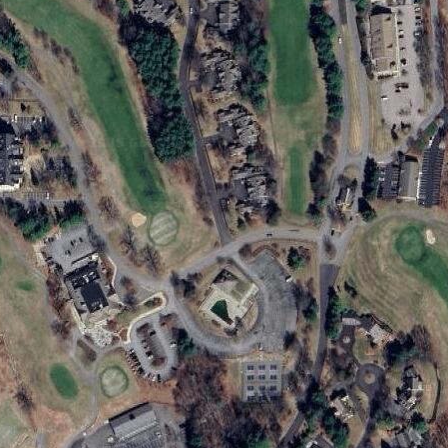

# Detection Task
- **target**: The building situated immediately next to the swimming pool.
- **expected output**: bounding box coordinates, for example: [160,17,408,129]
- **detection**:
[216,276,254,302]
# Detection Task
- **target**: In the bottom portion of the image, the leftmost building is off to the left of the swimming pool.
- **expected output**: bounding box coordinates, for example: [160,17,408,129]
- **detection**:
[62,256,112,320]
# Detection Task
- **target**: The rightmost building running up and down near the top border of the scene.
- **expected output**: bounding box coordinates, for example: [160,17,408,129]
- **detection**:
[369,14,400,74]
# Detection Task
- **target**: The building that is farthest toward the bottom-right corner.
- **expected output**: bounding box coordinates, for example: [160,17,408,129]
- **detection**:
[386,426,425,448]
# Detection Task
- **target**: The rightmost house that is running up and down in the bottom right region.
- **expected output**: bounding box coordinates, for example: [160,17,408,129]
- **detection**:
[403,367,423,410]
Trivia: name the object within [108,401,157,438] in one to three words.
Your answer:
building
